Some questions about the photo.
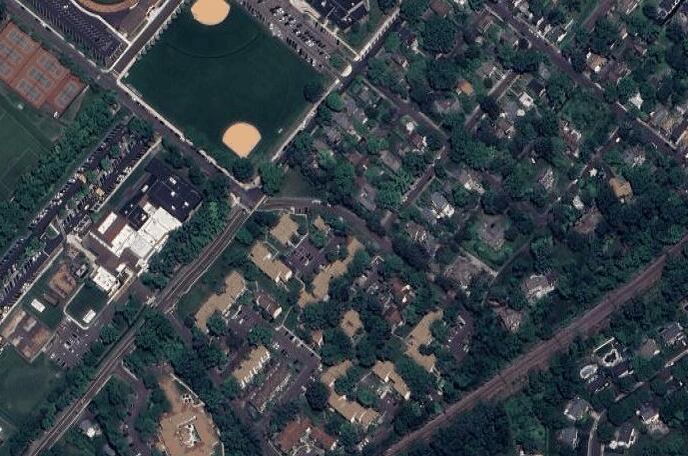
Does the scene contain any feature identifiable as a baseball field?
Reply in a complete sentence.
Yes, the frame does contain a baseball field.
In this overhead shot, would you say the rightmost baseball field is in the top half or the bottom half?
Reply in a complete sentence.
The top half of the photo is where the rightmost baseball field is.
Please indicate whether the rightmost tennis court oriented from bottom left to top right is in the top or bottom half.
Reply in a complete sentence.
It is in the top half that the rightmost tennis court oriented from bottom left to top right appears.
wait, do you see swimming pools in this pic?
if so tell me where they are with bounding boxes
[584,365,597,377]
[605,351,619,365]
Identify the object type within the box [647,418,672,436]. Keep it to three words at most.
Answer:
house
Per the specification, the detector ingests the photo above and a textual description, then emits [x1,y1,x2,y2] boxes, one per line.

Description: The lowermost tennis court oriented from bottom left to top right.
[41,70,89,123]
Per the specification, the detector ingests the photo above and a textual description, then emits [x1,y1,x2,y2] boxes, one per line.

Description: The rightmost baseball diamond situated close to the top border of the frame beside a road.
[191,0,230,25]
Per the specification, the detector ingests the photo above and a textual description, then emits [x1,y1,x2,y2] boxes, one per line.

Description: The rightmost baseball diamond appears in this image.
[223,121,261,157]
